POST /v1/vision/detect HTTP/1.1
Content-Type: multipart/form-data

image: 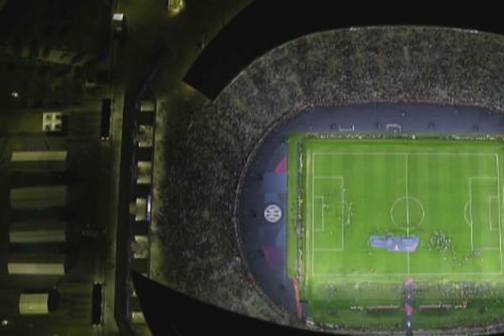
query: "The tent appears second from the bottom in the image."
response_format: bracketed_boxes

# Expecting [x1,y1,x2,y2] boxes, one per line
[4,254,71,275]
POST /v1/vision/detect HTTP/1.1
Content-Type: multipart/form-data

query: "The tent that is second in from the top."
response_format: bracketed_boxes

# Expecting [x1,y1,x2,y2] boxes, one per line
[6,186,73,210]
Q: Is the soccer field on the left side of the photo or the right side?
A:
right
